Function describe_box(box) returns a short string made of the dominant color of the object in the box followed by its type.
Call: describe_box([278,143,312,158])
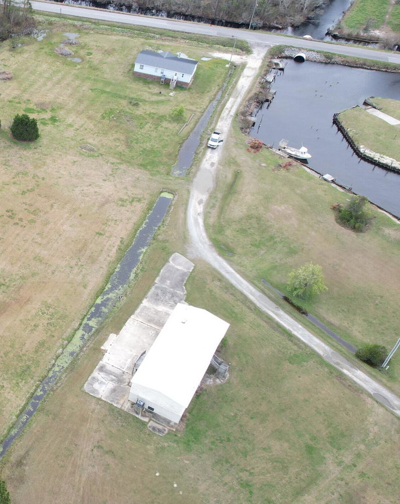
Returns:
white boat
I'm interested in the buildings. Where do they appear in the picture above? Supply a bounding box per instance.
[134,49,199,87]
[128,304,228,426]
